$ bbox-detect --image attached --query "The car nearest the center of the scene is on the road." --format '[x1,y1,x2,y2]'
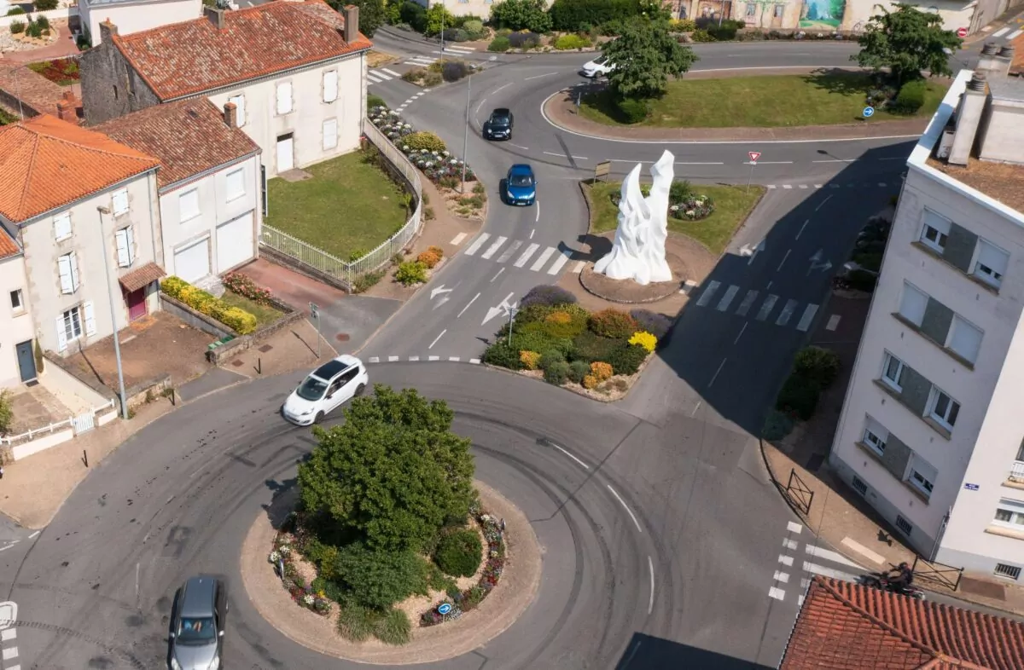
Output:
[504,159,539,205]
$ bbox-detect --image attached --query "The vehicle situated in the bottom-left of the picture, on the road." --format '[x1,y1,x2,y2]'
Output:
[164,575,232,670]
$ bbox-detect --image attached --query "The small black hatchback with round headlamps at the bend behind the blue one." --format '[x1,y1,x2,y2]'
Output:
[485,101,517,141]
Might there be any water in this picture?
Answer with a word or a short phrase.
No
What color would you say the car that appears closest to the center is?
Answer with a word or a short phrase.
blue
